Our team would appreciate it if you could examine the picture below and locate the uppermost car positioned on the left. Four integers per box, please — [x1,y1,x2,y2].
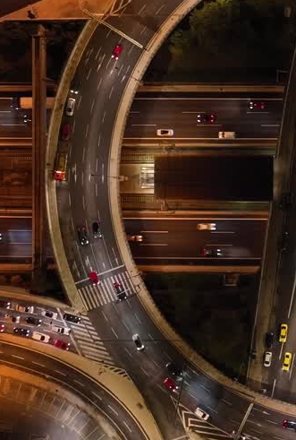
[111,40,125,59]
